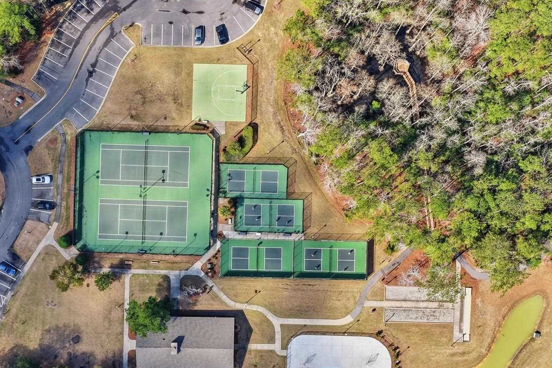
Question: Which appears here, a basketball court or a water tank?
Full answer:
Visible in the photo is a basketball court.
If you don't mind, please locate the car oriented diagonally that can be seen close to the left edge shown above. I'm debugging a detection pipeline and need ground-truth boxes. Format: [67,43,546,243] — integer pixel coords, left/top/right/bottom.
[0,263,16,275]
